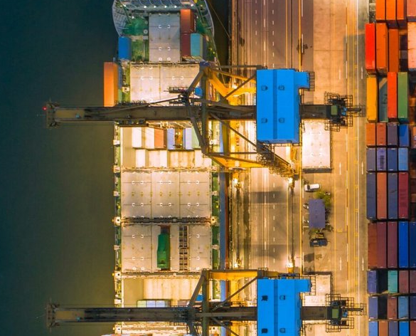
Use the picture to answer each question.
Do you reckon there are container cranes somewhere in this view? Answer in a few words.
Yes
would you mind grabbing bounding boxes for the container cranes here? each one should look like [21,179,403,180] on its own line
[43,60,372,205]
[46,244,369,336]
